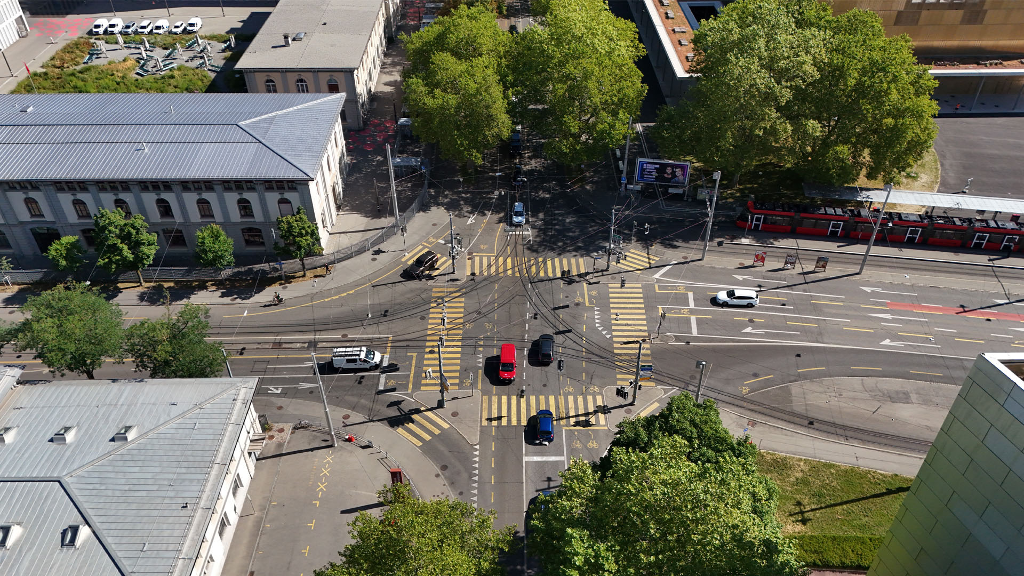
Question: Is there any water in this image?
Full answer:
No, the picture contains no water.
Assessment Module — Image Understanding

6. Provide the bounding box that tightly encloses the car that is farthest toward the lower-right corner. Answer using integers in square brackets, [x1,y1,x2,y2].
[717,290,761,310]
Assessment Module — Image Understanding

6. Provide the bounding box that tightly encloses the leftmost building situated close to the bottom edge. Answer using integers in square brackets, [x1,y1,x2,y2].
[0,380,262,576]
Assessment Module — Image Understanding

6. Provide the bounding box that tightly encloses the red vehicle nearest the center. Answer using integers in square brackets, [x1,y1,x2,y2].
[497,339,519,383]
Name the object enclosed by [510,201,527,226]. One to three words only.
car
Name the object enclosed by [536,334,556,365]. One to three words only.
car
